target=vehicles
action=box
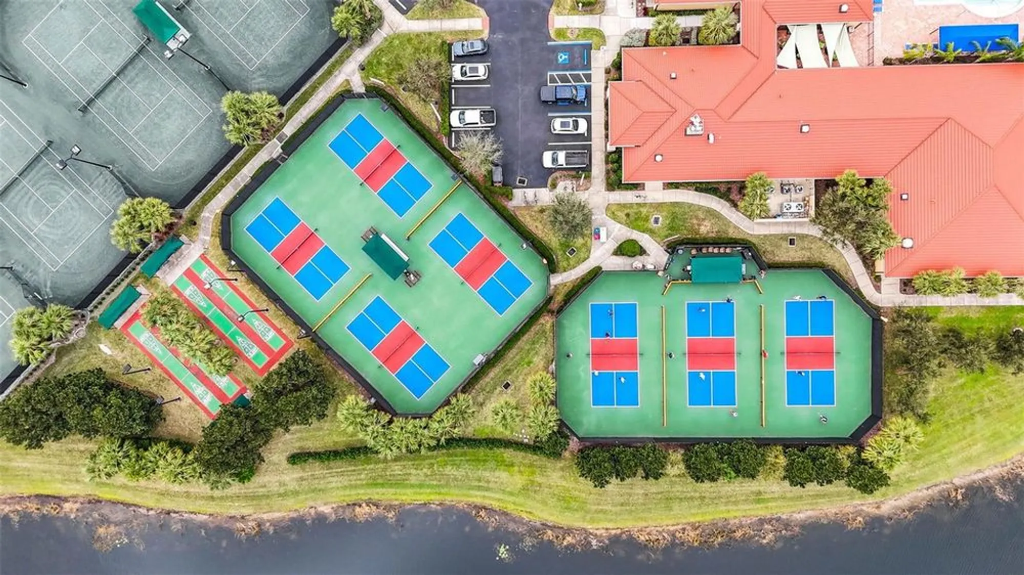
[550,116,588,135]
[452,62,489,81]
[451,38,488,58]
[541,149,589,168]
[541,83,587,104]
[492,167,502,186]
[450,108,496,128]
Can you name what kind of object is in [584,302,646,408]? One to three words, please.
sports court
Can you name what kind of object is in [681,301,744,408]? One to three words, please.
sports court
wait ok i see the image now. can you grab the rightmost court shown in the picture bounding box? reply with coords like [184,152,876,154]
[779,300,844,407]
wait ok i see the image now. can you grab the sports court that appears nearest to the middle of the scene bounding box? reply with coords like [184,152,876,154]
[428,212,534,316]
